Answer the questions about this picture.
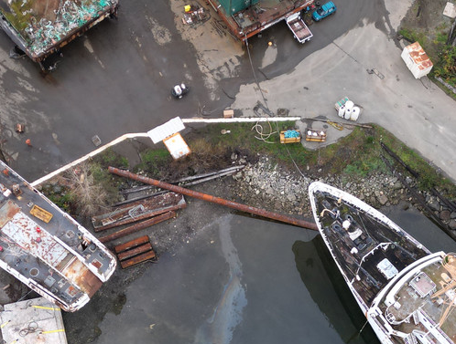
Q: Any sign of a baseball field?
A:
No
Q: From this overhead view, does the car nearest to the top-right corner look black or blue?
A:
blue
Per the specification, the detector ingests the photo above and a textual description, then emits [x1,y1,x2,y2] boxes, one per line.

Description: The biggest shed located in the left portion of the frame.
[147,117,192,162]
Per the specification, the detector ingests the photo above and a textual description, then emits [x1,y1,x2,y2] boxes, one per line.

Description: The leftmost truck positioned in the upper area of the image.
[288,13,313,43]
